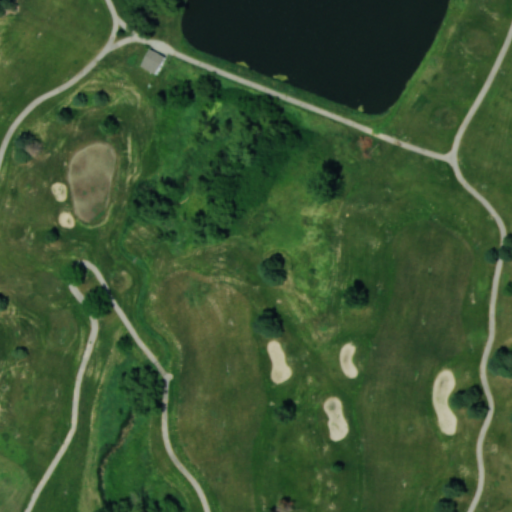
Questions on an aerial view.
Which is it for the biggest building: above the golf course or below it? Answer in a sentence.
The biggest building appears above the golf course in the picture.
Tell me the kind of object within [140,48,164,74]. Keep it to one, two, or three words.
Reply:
building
